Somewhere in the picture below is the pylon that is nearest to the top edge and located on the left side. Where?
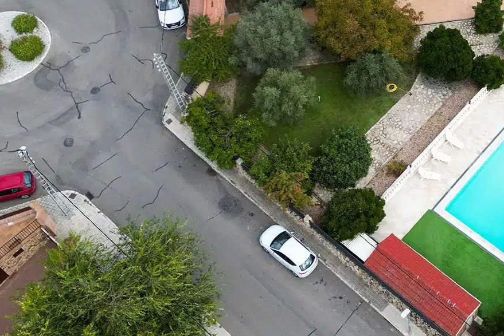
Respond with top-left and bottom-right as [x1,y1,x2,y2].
[150,47,189,113]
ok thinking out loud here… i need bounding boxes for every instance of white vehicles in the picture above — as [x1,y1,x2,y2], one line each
[256,225,322,280]
[154,0,185,32]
